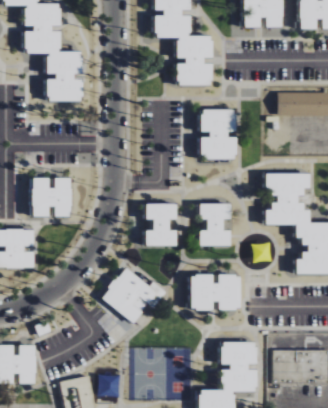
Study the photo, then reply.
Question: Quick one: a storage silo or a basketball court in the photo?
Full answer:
Of the two, only a basketball court appears.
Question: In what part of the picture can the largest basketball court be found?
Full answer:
The largest basketball court is located in the bottom region of the scene.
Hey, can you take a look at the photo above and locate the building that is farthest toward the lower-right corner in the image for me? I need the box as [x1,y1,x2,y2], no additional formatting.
[270,350,328,383]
